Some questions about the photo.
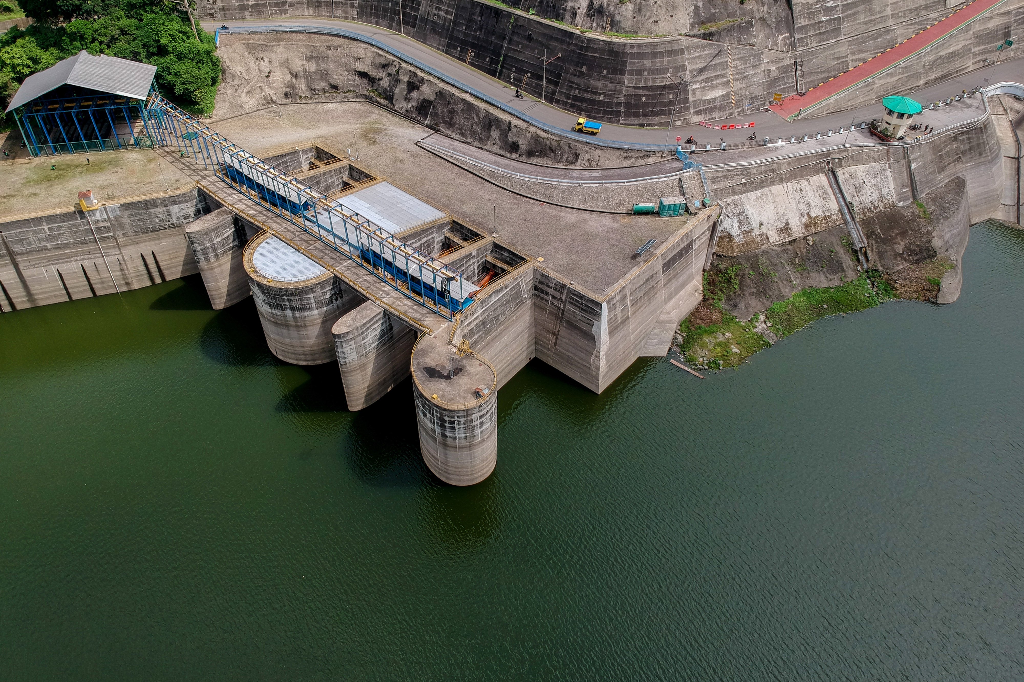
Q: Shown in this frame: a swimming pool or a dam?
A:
dam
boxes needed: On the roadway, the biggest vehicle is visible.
[574,118,600,134]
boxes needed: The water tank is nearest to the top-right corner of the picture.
[658,196,687,216]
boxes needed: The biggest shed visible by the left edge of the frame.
[4,49,165,153]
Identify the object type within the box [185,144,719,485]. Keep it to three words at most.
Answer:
dam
